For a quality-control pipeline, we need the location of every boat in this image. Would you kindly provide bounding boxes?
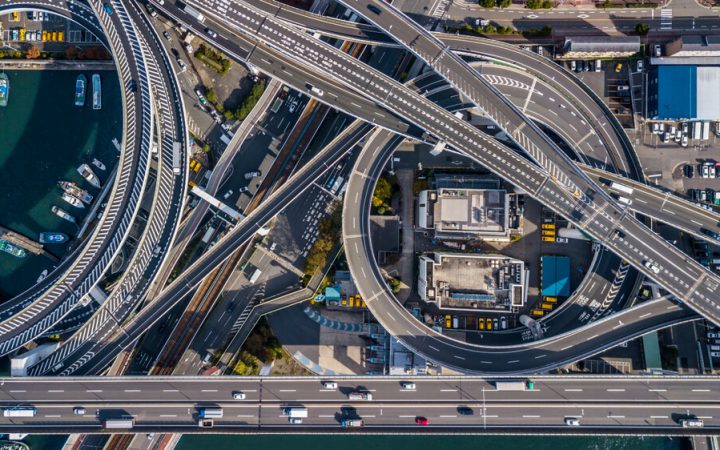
[92,74,102,109]
[76,75,86,106]
[0,439,32,450]
[77,162,98,186]
[60,183,94,206]
[51,205,75,221]
[35,269,49,282]
[0,72,8,106]
[0,237,28,255]
[39,232,69,243]
[61,191,84,207]
[92,158,105,169]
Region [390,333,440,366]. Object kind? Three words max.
building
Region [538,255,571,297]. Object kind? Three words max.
building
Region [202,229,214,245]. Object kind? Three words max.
vehicle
